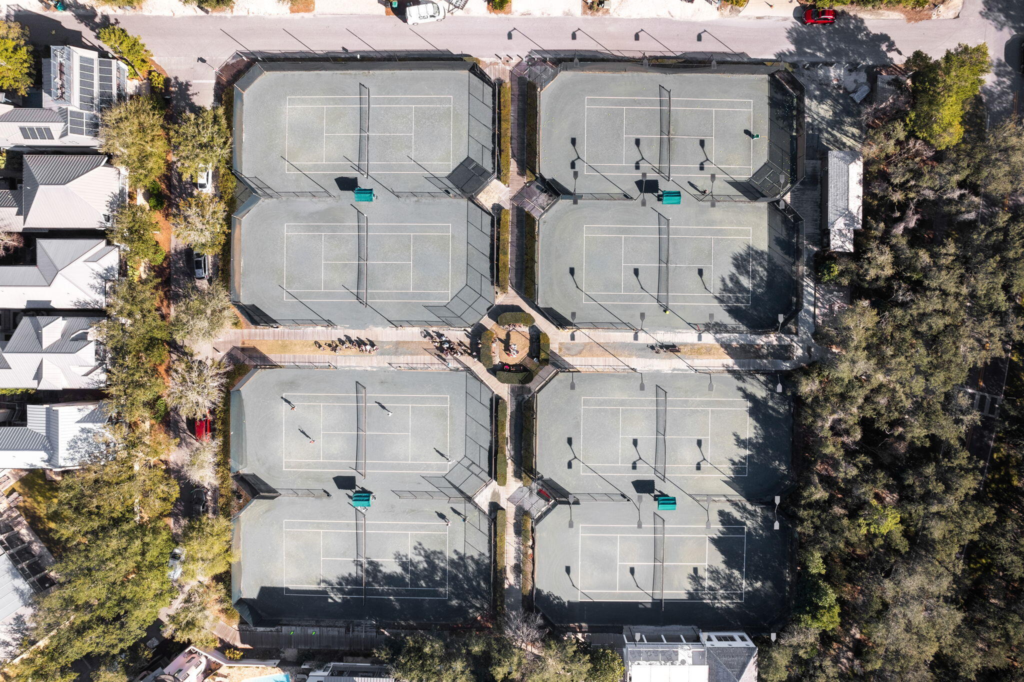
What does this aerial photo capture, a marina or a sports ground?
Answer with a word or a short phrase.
sports ground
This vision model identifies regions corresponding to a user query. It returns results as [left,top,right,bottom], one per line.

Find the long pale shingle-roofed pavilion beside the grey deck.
[823,151,862,252]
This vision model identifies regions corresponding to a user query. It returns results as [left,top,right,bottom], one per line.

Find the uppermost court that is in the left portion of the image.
[243,71,496,197]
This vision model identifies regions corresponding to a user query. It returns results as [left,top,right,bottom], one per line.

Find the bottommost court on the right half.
[536,501,792,626]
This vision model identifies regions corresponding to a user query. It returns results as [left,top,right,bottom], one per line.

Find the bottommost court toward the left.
[241,498,491,625]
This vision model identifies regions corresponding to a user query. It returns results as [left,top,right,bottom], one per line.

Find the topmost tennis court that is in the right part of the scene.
[541,73,795,199]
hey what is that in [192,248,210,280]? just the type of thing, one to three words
car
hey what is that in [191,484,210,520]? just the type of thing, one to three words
vehicle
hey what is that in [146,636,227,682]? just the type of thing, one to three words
house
